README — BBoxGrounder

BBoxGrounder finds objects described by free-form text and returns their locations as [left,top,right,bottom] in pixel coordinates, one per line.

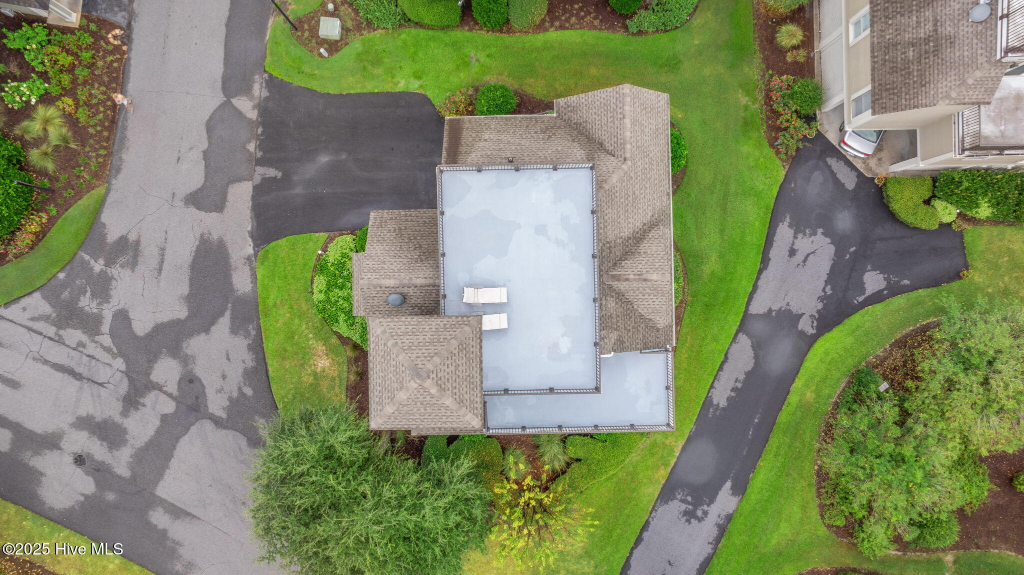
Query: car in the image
[839,130,887,161]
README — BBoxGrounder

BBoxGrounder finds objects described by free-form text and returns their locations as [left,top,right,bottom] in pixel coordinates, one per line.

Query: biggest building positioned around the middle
[352,83,679,437]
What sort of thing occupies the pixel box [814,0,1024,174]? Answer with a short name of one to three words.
house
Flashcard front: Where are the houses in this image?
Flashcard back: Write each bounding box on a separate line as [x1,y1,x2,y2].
[352,83,679,437]
[0,0,81,26]
[814,0,1024,174]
